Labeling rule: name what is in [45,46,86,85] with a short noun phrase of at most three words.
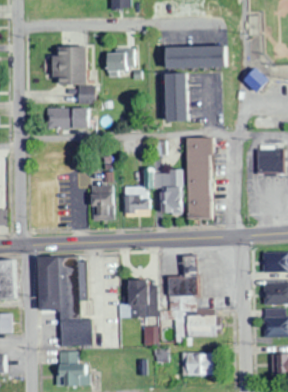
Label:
house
